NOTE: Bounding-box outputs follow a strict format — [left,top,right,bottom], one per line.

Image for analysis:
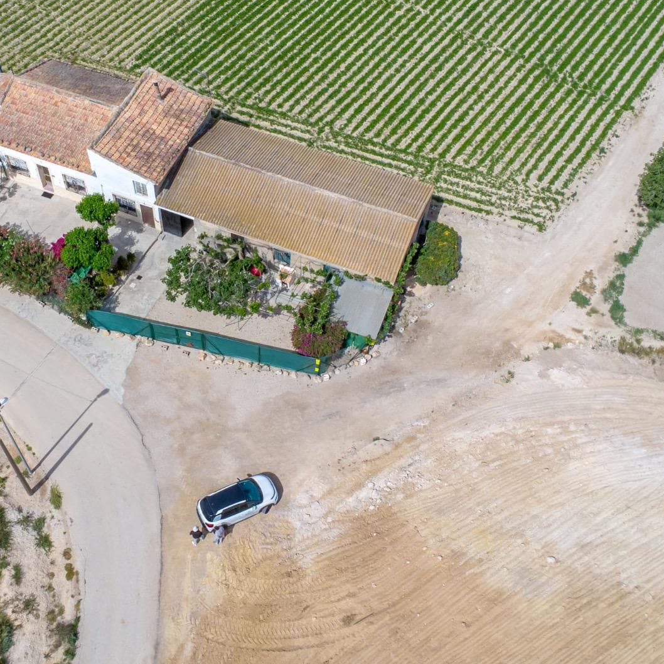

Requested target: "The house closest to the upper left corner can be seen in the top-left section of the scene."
[0,55,211,232]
